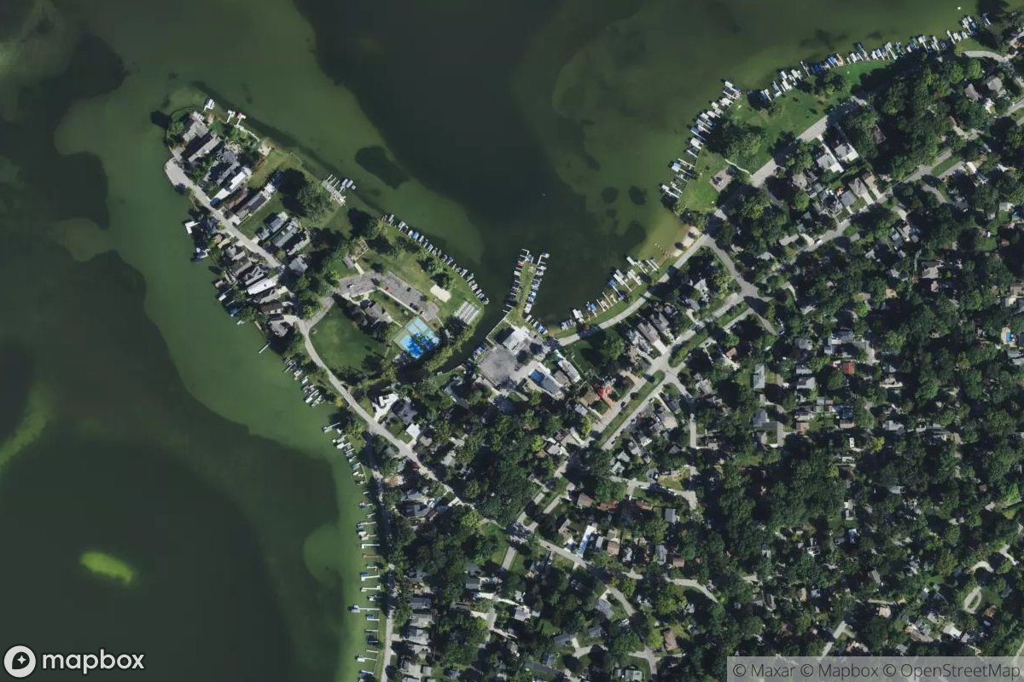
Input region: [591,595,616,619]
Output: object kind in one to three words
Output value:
house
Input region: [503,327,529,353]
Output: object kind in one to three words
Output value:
house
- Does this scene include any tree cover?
Yes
